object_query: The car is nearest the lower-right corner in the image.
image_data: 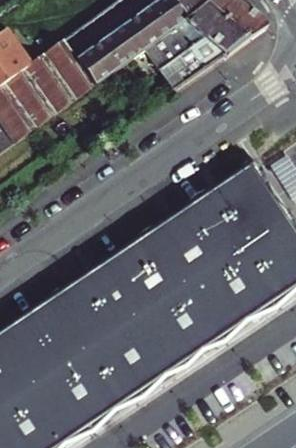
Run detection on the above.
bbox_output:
[276,386,293,406]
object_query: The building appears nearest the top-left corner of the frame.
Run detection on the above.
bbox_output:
[0,26,33,84]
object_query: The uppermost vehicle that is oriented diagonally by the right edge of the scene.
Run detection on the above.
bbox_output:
[267,354,284,374]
